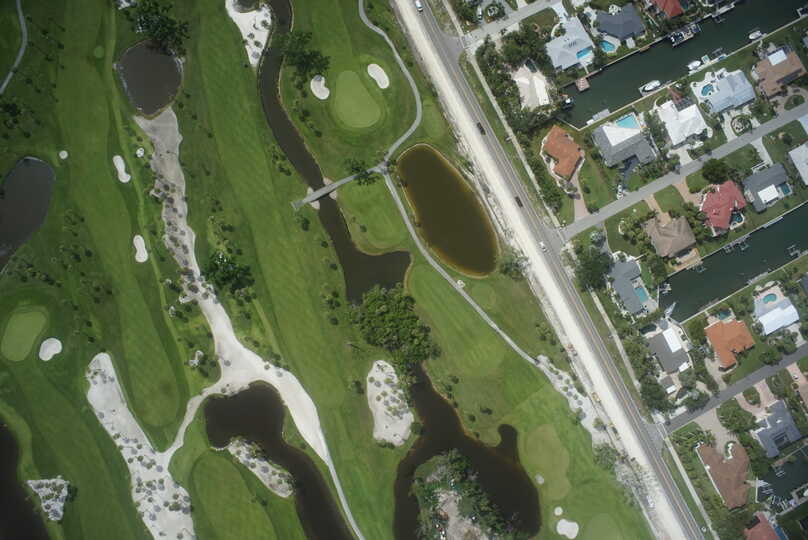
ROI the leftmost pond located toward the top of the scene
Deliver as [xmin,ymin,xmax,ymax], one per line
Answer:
[0,157,55,271]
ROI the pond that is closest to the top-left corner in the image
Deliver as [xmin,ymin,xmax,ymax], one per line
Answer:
[118,39,182,118]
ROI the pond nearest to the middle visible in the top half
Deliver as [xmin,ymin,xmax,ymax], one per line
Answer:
[397,144,499,276]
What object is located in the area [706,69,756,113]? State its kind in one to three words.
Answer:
house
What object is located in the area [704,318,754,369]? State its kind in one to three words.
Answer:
house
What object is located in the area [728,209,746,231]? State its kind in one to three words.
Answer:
swimming pool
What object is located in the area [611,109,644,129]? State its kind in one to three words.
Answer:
swimming pool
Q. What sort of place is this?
golf course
